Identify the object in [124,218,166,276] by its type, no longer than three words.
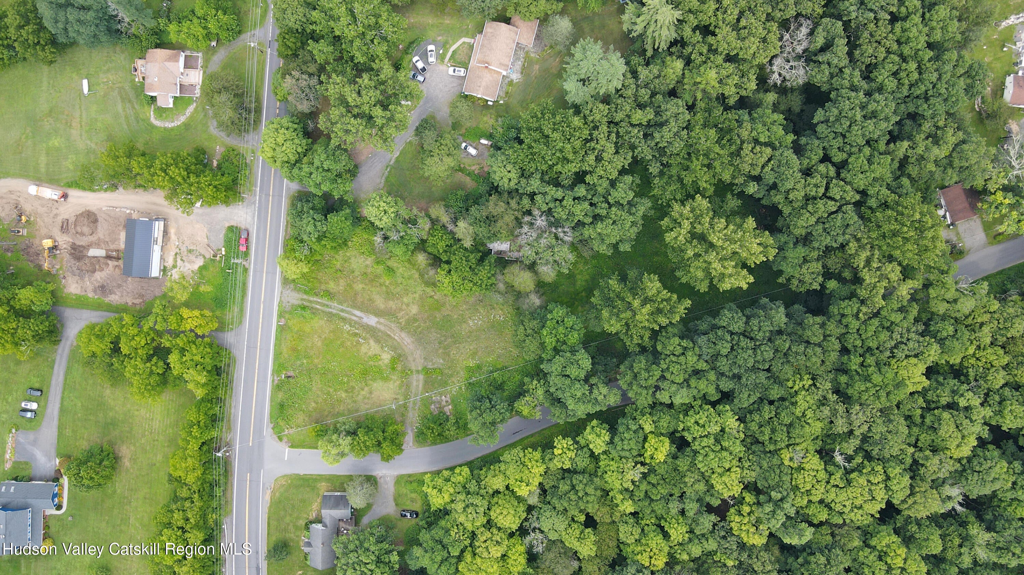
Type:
building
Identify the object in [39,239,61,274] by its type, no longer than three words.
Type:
work vehicle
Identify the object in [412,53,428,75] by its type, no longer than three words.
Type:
vehicle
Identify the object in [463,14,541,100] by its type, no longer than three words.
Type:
house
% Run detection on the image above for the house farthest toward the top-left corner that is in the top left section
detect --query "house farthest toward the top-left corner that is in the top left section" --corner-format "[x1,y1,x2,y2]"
[145,47,185,107]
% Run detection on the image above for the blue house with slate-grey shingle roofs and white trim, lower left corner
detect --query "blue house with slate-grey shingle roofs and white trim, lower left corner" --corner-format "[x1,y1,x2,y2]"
[0,482,59,557]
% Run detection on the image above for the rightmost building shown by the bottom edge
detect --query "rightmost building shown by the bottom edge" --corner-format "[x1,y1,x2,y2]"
[303,494,351,572]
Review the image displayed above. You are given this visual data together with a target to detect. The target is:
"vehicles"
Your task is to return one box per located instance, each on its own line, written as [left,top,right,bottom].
[427,44,436,64]
[238,229,248,251]
[9,228,26,236]
[16,409,37,420]
[460,141,479,157]
[12,206,28,224]
[412,53,428,75]
[39,239,61,274]
[400,510,418,519]
[448,66,467,75]
[19,401,39,410]
[24,388,43,397]
[26,184,67,201]
[415,71,427,83]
